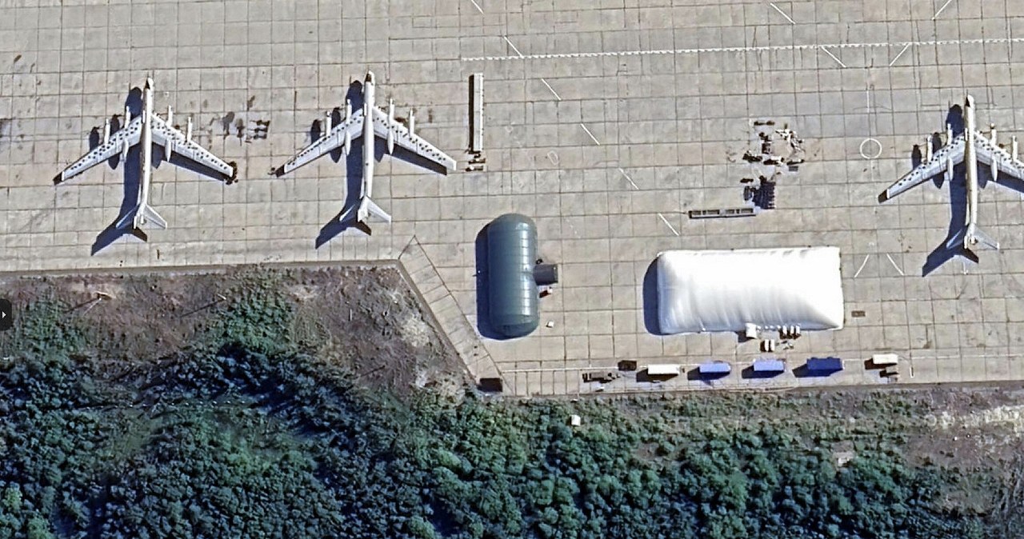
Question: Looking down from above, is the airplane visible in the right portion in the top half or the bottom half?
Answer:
top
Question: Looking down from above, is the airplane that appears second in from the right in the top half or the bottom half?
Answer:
top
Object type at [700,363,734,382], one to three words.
vehicle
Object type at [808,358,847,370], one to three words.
vehicle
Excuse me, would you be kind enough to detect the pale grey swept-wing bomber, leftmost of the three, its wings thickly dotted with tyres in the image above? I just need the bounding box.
[65,76,235,229]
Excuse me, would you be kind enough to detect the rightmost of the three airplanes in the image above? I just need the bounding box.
[889,94,1024,247]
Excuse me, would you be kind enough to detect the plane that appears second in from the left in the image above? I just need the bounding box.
[286,71,457,222]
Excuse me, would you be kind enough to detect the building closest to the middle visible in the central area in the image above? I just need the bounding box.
[479,214,557,337]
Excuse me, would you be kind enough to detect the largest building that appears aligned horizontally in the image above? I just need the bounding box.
[658,246,846,339]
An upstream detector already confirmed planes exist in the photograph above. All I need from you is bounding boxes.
[286,71,457,222]
[889,94,1024,247]
[65,76,235,229]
